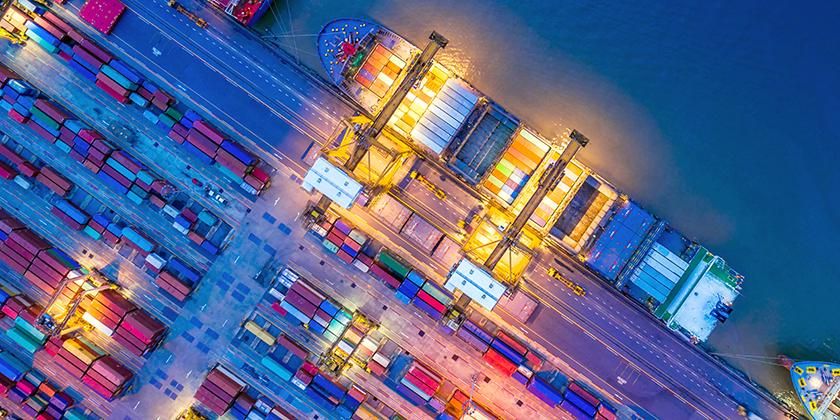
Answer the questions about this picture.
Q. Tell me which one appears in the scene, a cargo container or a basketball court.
cargo container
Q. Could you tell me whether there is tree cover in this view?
No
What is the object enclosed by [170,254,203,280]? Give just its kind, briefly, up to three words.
shipping container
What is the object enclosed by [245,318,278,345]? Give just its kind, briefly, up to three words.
shipping container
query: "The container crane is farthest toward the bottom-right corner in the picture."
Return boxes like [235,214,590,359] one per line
[439,129,590,331]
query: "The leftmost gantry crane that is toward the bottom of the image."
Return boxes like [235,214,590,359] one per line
[35,262,123,332]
